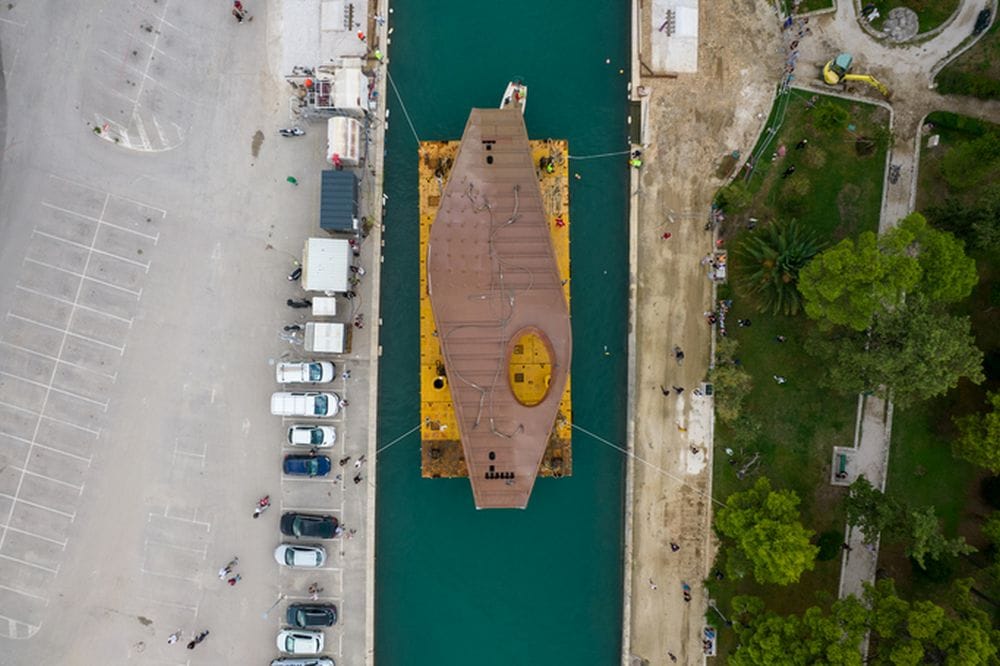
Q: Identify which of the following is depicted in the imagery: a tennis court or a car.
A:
car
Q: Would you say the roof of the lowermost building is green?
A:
No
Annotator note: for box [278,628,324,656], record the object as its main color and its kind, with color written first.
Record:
white car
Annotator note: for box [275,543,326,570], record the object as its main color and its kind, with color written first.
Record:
white car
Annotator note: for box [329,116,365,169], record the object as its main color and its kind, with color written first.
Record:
white tent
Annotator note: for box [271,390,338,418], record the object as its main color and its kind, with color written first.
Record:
white van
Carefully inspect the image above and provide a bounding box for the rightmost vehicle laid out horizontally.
[811,53,894,104]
